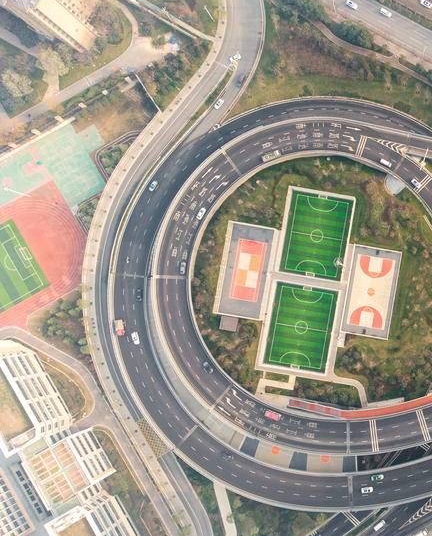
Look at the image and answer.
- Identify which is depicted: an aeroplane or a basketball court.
basketball court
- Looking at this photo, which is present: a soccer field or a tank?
soccer field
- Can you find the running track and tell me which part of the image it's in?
left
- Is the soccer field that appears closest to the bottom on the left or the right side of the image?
right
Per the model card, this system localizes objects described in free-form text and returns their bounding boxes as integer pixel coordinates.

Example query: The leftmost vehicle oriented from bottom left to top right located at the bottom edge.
[372,520,387,534]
